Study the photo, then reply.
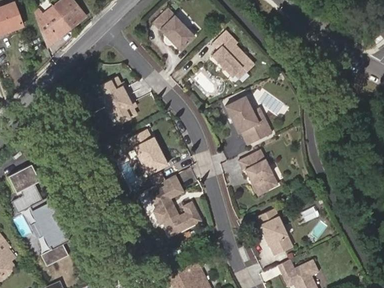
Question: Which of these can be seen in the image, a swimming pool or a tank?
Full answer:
Visible in the photo is a swimming pool.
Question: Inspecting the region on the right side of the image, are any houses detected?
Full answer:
Yes, a house appears on the right side of the image.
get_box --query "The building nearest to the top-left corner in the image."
[0,1,24,35]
